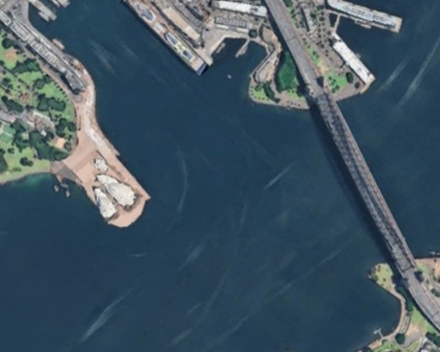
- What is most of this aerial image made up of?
water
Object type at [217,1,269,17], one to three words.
building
